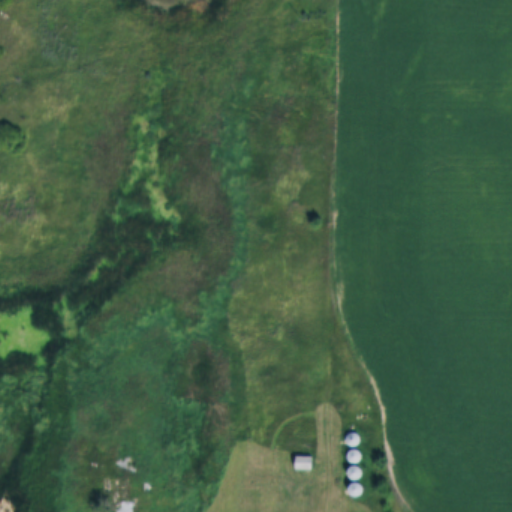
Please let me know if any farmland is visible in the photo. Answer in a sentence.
Yes, farmland can be seen from above here.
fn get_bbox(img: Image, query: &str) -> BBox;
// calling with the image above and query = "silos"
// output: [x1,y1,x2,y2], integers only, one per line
[347,482,363,499]
[346,449,362,465]
[346,432,361,448]
[347,466,362,482]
